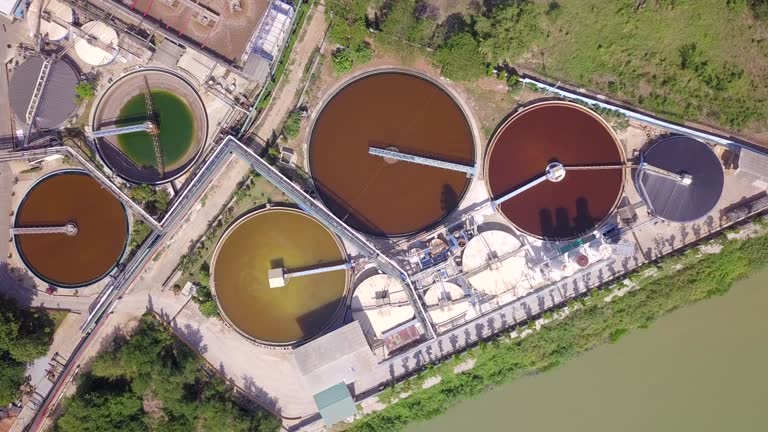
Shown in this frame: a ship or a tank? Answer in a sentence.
There is a tank in the scene.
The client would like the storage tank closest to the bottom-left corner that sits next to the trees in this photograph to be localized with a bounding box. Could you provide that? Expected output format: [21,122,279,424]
[7,170,133,287]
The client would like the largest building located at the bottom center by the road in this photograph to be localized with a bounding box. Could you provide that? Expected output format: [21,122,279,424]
[294,318,382,393]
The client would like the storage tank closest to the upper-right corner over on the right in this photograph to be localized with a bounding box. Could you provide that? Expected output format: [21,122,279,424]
[633,136,724,220]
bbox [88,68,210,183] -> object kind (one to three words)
storage tank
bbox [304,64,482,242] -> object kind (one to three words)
storage tank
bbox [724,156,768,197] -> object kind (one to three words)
shed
